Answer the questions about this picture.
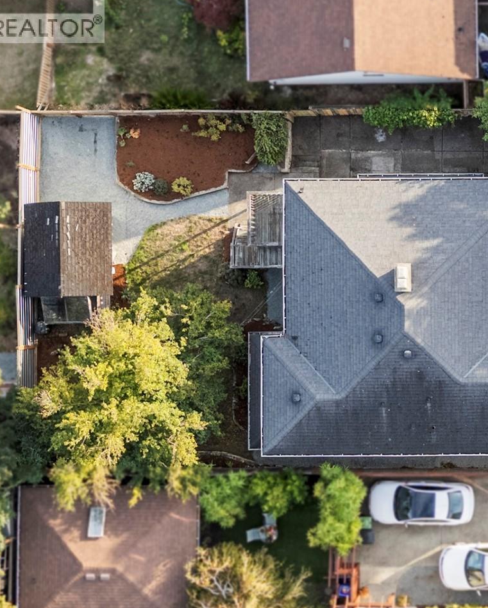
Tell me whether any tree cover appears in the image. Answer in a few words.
Yes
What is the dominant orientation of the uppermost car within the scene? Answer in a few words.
from left to right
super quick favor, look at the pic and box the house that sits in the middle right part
[248,171,488,459]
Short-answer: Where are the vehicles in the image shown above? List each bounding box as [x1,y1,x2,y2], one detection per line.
[373,480,473,529]
[445,540,488,594]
